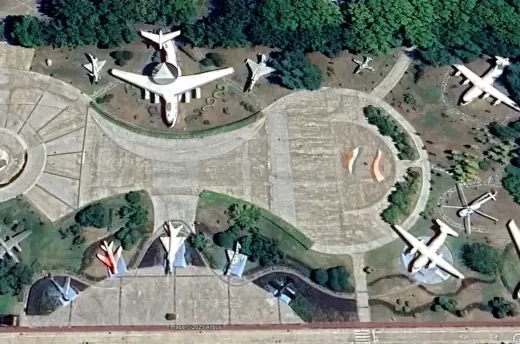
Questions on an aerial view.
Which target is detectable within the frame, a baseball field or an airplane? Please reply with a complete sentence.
Of the two, only an airplane appears.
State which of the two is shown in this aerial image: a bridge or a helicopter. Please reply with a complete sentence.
I can see a helicopter in this picture.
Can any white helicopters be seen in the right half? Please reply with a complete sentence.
Yes, you'll find a white helicopter in the right half.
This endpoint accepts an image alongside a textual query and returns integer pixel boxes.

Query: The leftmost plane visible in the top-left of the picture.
[81,53,105,84]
